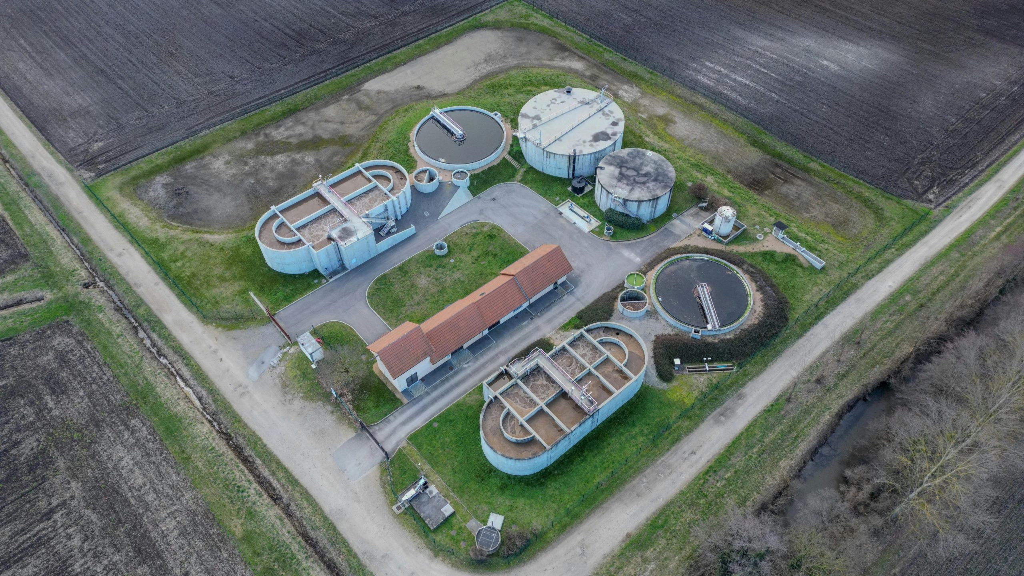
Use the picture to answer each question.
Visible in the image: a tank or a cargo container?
tank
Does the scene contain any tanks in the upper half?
Yes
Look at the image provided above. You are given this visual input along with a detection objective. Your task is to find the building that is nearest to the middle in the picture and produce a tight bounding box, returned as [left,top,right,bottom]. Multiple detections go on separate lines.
[367,243,575,391]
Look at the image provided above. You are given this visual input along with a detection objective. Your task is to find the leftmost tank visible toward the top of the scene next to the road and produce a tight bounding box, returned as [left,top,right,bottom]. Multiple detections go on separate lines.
[257,159,417,282]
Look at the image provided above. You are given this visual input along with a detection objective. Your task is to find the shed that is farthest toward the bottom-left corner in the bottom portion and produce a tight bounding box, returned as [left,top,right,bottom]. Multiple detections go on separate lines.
[297,332,324,363]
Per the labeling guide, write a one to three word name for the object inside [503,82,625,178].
storage tank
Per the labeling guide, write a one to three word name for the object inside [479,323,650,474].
storage tank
